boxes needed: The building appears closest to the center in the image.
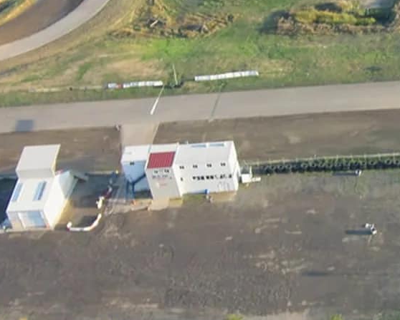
[120,141,245,203]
